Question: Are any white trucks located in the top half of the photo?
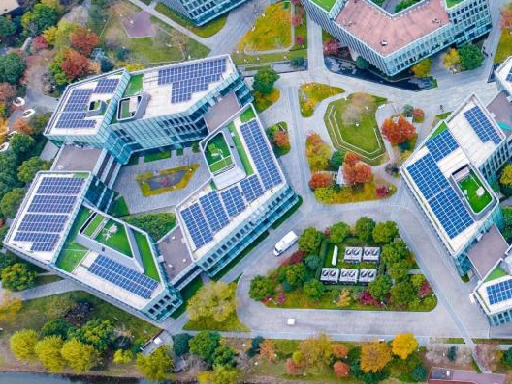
No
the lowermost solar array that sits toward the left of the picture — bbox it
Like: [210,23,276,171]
[89,254,161,299]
